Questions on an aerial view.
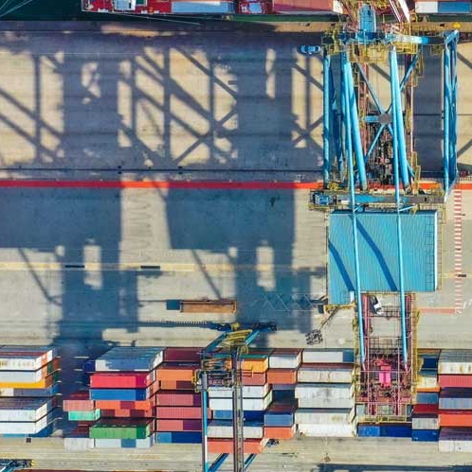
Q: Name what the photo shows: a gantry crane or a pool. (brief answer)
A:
gantry crane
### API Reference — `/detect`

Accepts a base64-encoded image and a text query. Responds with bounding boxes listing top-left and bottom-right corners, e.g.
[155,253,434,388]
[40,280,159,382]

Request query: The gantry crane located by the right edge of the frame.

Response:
[309,0,472,423]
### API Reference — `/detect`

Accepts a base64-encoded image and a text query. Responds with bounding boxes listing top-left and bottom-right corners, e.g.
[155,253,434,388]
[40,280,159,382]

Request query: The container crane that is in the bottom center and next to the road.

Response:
[193,320,276,472]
